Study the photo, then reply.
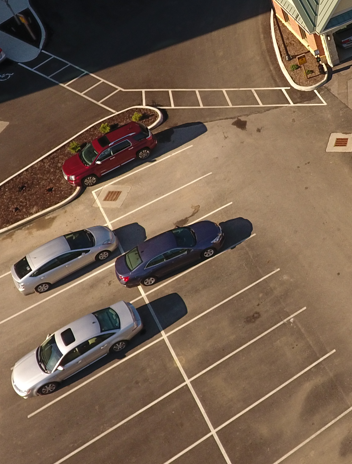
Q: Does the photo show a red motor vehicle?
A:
Yes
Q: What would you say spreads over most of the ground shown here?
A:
paved ground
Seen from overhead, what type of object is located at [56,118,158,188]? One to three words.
car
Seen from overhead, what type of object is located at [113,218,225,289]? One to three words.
car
